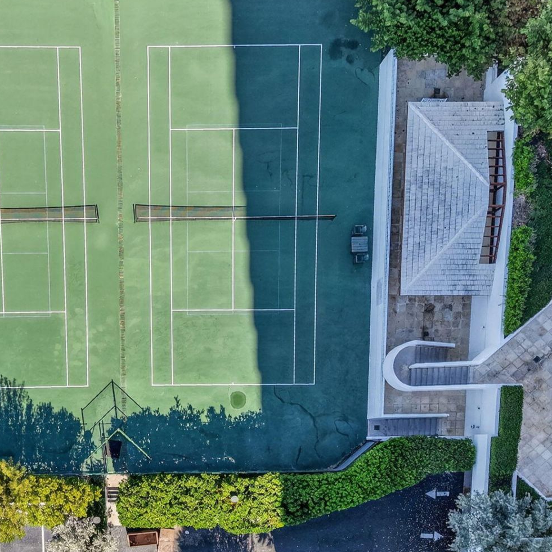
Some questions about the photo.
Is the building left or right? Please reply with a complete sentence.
It is on the right.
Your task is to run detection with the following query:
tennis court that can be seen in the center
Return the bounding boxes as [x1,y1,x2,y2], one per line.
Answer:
[119,0,382,475]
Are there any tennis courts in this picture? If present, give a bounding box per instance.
[0,0,127,480]
[119,0,382,475]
